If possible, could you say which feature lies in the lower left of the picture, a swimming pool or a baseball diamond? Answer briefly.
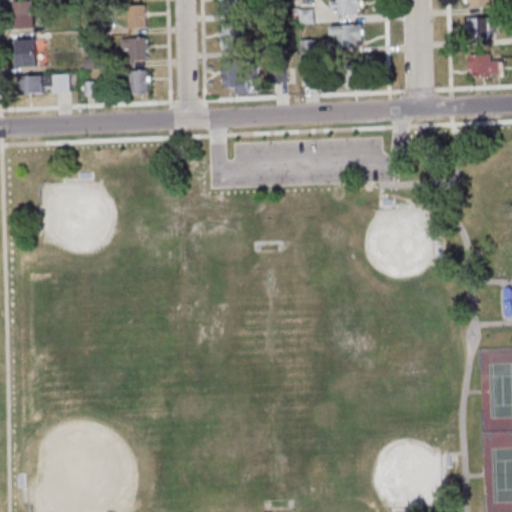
baseball diamond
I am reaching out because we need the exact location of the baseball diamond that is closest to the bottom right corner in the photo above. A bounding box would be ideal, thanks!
[374,438,442,508]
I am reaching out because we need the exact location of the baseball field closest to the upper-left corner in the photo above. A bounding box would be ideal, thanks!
[43,181,118,254]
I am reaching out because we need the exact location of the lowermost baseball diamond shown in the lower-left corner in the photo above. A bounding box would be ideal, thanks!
[36,420,138,512]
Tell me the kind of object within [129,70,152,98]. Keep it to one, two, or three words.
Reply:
house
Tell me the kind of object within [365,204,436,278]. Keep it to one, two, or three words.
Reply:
baseball field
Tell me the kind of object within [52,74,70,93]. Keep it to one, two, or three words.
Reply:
building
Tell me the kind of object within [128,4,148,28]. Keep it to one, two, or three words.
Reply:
house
